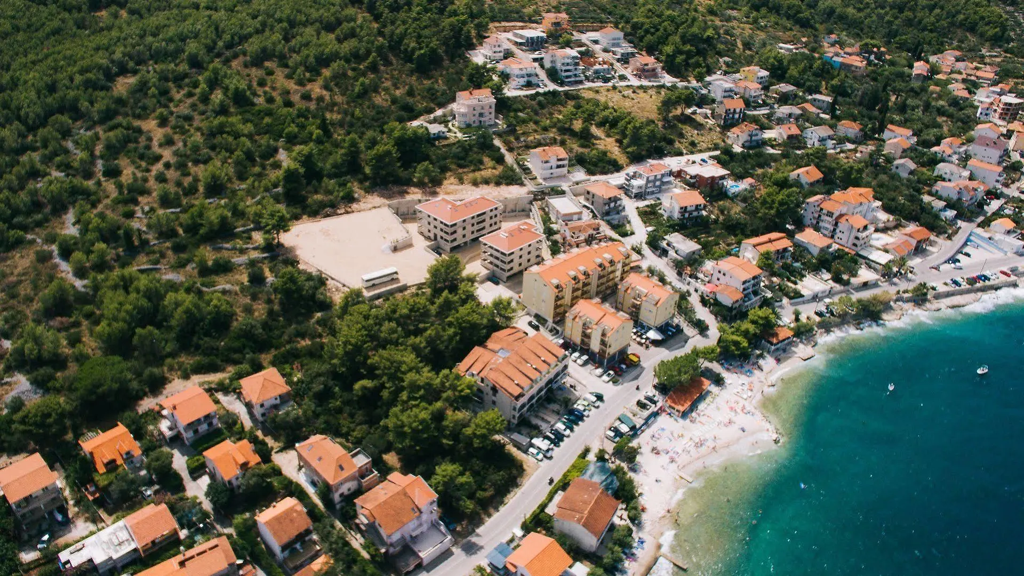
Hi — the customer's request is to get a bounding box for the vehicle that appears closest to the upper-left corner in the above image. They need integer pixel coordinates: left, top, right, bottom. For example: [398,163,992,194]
[360,269,398,287]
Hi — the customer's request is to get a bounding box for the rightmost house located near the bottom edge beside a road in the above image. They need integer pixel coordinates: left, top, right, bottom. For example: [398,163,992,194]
[554,478,623,554]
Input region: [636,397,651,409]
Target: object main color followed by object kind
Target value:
gray vehicle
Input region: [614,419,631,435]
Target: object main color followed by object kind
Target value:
white vehicle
